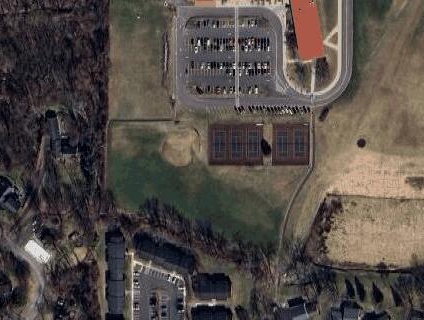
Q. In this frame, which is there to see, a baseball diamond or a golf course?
baseball diamond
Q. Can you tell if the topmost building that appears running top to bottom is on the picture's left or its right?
right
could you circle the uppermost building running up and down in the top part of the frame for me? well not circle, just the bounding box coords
[291,0,323,60]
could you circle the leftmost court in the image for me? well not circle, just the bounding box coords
[209,124,228,165]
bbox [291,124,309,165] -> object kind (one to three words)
tennis court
